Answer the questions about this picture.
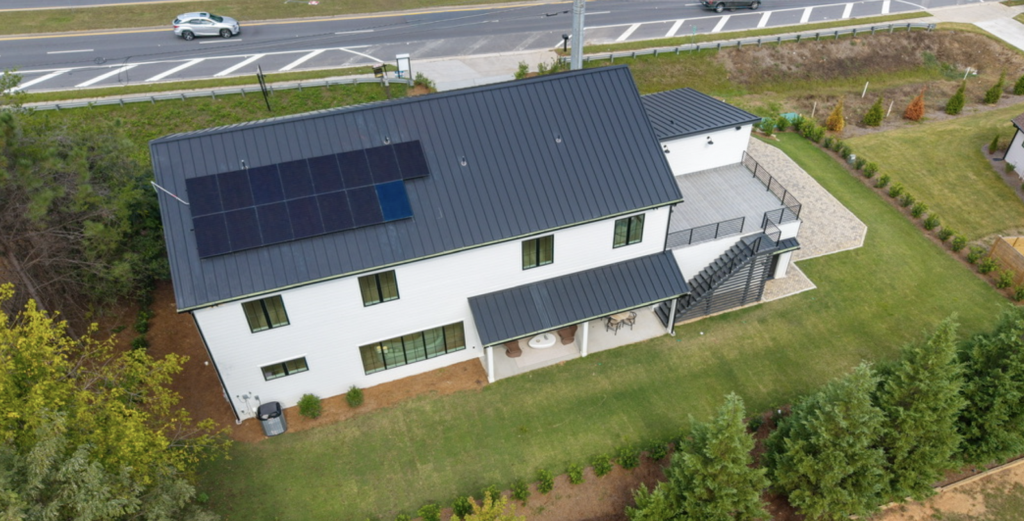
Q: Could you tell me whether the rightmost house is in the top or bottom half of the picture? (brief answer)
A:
top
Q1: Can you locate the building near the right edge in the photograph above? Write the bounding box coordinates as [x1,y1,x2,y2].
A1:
[996,109,1024,172]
